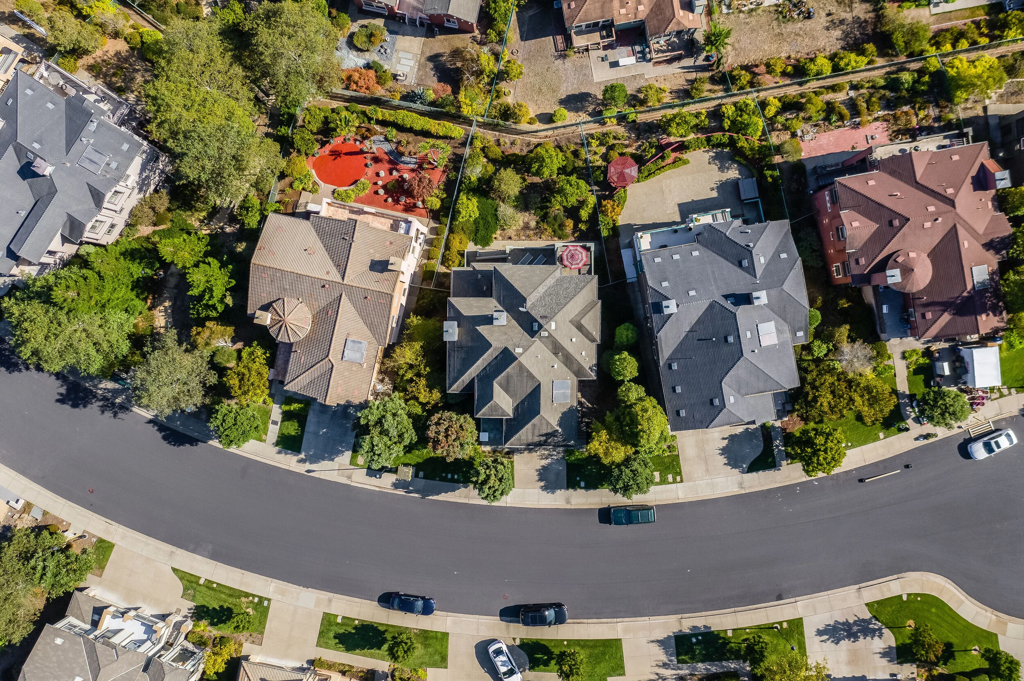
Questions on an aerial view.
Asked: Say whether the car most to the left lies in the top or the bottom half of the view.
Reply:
bottom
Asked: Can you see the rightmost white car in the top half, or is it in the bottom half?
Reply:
bottom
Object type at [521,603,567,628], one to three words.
car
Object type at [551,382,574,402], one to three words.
solar panel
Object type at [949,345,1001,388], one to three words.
tent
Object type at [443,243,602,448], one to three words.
house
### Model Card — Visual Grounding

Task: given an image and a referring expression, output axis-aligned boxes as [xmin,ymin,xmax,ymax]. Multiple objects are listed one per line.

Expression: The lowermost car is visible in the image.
[490,640,524,681]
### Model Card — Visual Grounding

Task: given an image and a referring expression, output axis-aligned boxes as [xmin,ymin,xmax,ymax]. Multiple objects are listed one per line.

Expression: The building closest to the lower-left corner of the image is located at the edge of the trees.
[18,588,214,681]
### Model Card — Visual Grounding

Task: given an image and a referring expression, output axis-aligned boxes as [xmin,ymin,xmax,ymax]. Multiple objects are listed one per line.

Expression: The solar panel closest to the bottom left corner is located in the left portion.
[338,338,372,365]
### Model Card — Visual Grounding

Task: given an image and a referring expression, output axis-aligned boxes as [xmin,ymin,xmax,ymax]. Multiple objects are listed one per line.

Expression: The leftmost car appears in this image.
[390,590,436,616]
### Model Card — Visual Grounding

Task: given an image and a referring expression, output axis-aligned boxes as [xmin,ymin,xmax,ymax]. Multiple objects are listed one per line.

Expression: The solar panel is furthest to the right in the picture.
[972,267,993,286]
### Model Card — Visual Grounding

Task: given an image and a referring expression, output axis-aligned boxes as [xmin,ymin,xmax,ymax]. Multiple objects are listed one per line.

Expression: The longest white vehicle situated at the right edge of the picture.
[965,428,1018,460]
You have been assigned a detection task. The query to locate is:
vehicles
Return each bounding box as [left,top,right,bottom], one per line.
[490,640,524,681]
[610,503,657,527]
[521,603,567,628]
[965,428,1018,460]
[390,590,436,616]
